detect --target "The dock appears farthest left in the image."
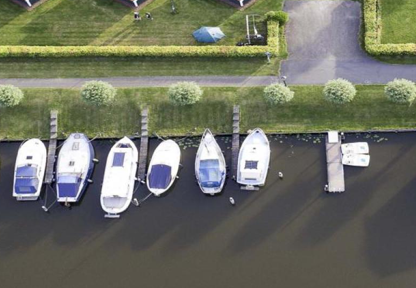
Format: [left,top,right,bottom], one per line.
[42,110,58,183]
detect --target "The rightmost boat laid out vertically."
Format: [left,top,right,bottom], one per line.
[236,127,270,193]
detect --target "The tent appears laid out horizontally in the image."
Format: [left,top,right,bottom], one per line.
[191,27,225,44]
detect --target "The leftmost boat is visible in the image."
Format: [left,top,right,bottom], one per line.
[12,138,46,203]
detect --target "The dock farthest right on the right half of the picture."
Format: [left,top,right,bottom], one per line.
[327,131,345,193]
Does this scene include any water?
Yes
